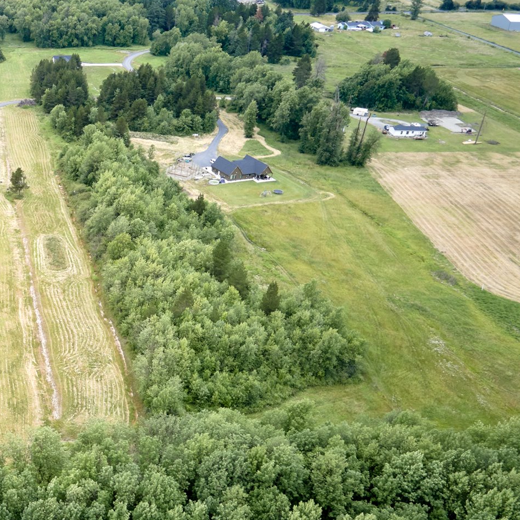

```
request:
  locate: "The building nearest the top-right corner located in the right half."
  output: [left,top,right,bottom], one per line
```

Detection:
[495,13,520,31]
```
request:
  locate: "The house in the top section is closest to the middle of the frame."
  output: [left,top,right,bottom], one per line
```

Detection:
[210,153,274,183]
